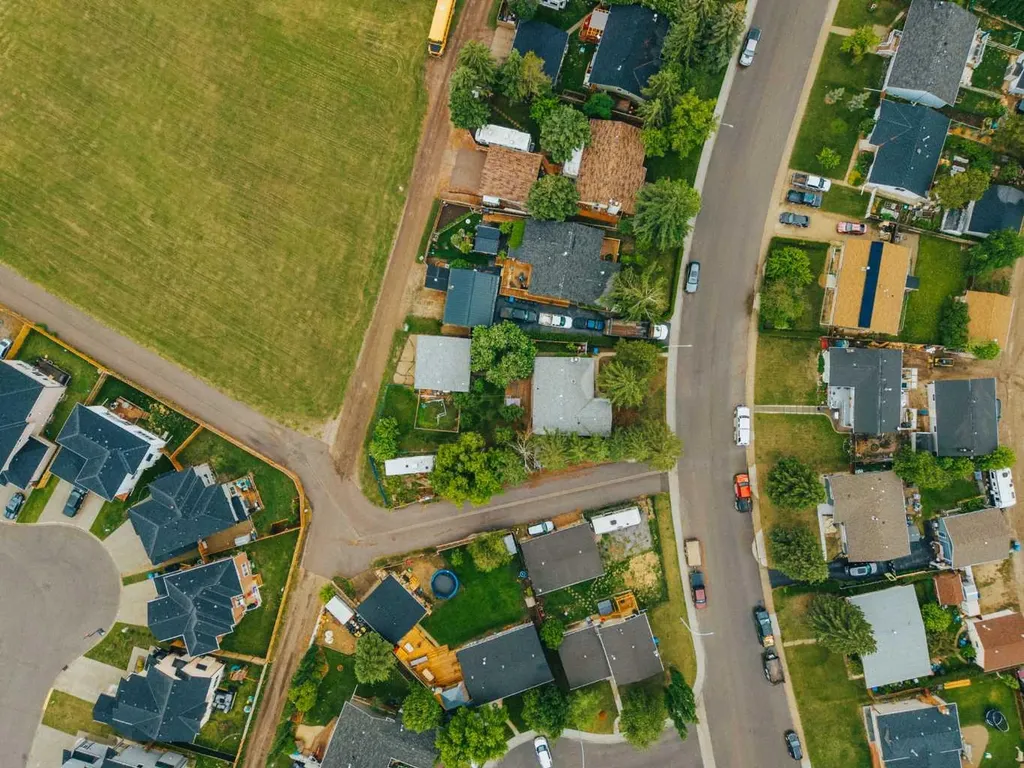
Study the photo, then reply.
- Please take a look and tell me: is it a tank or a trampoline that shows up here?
trampoline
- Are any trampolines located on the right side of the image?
Yes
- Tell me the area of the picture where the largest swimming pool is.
bottom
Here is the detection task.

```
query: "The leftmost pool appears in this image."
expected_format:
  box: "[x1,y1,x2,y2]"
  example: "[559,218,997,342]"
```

[431,569,459,598]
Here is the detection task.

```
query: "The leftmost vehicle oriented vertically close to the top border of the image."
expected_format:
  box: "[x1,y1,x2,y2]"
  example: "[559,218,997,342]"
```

[425,0,459,64]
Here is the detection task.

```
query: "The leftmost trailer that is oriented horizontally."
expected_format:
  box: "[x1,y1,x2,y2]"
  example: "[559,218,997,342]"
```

[386,455,437,475]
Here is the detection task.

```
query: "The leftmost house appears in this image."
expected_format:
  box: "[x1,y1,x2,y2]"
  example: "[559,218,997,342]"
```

[0,360,62,490]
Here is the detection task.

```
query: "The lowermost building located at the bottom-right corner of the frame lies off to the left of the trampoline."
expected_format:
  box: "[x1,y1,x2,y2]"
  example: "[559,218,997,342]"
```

[871,696,973,768]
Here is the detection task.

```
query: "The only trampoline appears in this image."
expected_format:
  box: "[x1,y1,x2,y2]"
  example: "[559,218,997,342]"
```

[982,705,1011,732]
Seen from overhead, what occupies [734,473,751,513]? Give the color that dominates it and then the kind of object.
red vehicle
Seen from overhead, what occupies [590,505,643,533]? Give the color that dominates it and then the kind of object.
white trailer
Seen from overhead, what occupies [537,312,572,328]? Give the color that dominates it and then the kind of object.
white vehicle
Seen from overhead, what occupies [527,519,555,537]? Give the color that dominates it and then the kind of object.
white car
